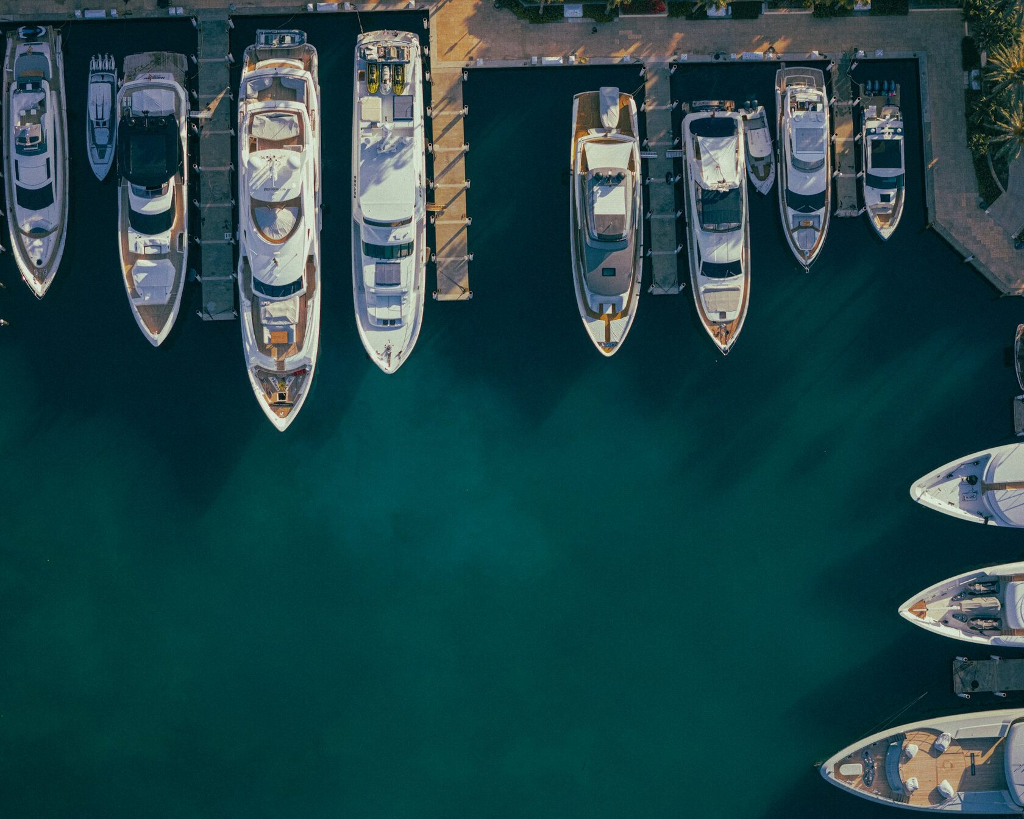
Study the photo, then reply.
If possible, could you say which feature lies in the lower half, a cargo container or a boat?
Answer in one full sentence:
Visible in the lower half is a boat.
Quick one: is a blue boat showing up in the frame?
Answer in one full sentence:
Yes, the image includes a blue boat.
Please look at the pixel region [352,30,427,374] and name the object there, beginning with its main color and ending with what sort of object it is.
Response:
white boat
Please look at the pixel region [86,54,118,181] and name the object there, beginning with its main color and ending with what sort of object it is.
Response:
blue boat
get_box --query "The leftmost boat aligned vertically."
[3,26,70,298]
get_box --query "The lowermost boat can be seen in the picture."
[815,708,1024,814]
